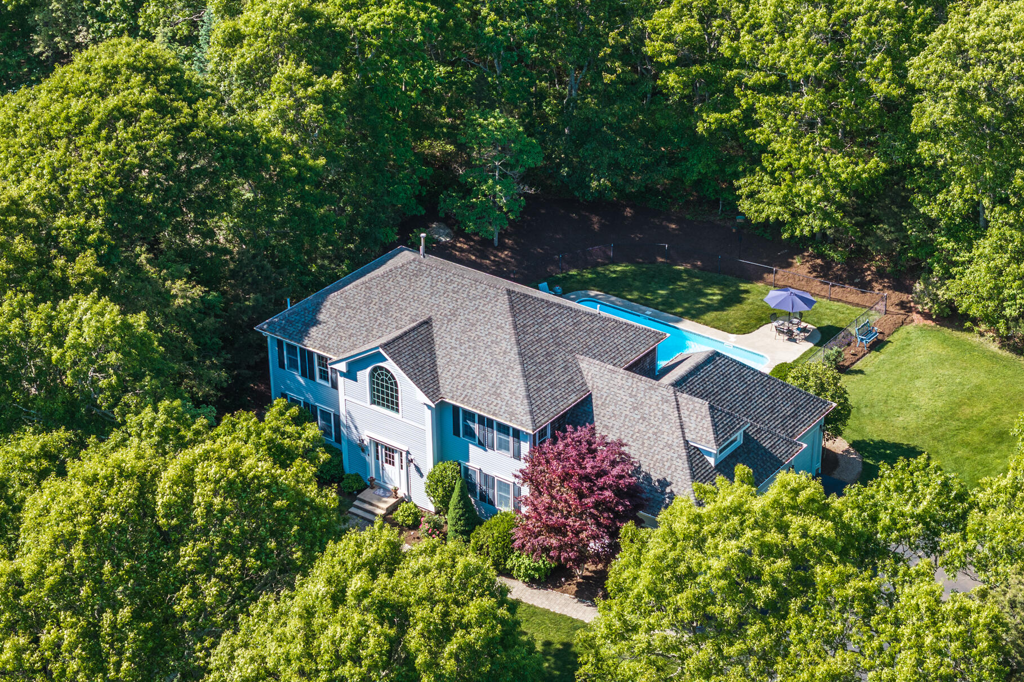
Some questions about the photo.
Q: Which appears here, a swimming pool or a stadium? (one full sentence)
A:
I can see a swimming pool in this picture.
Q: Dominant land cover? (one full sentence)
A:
The bulk of the photo consists of trees.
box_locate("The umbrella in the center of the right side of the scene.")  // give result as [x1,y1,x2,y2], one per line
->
[765,288,818,338]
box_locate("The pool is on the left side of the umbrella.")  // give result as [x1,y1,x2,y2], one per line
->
[565,296,766,369]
